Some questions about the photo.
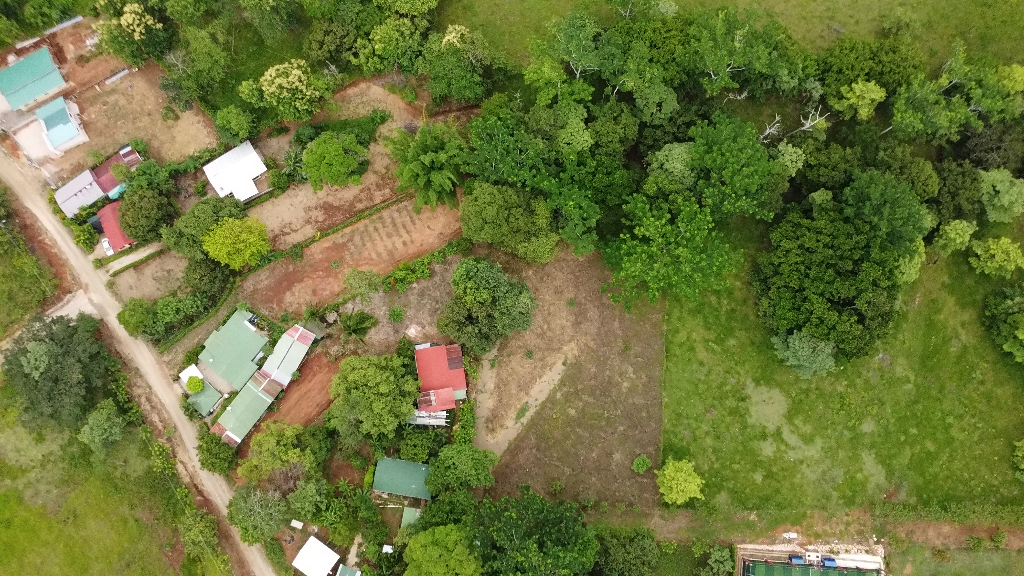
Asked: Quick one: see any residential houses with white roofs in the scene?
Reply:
Yes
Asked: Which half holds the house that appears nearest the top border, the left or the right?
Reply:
left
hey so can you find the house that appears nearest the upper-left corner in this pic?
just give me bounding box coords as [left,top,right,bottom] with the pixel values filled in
[0,47,74,112]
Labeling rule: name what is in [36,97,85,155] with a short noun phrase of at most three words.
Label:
house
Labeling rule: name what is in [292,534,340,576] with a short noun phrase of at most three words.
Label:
house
